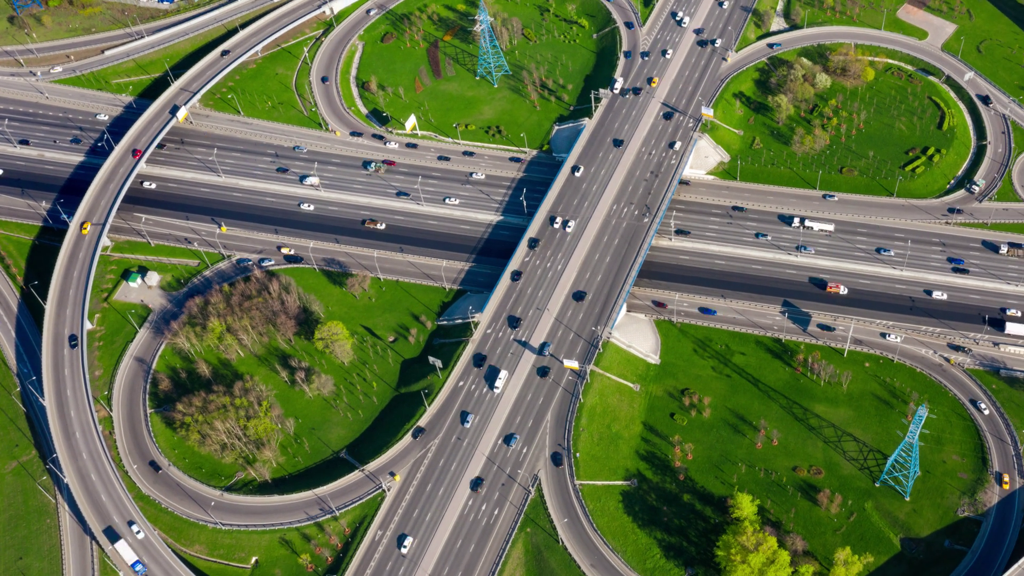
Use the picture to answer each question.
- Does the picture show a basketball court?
No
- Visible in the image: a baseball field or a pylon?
pylon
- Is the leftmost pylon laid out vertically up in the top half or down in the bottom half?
top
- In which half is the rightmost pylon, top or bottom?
bottom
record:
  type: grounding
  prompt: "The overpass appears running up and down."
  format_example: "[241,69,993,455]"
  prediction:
[42,0,356,576]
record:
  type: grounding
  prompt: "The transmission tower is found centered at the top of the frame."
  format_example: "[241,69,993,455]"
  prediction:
[476,0,511,88]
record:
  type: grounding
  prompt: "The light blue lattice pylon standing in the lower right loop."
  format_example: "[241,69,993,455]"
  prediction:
[874,396,932,499]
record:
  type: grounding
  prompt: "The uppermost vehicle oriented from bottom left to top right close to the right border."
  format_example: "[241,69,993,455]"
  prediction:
[965,178,986,198]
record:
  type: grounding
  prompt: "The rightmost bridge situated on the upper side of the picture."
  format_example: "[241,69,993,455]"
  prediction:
[487,109,696,334]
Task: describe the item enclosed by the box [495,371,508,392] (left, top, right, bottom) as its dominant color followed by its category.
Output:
white vehicle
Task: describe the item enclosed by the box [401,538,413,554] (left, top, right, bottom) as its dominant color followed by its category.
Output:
white vehicle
